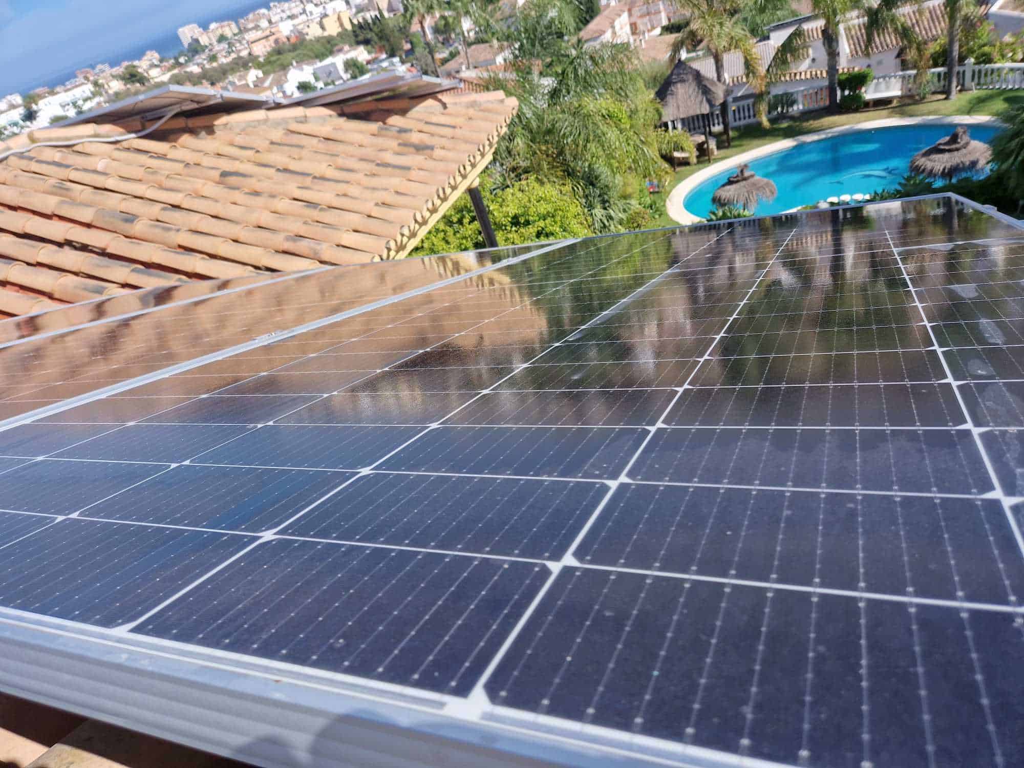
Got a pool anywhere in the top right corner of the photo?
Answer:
Yes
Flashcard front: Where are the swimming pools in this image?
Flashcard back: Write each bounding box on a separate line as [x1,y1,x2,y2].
[666,117,1003,225]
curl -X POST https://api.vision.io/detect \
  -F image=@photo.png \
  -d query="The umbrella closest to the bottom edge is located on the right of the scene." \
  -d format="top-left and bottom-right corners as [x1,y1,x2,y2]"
[709,164,779,219]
